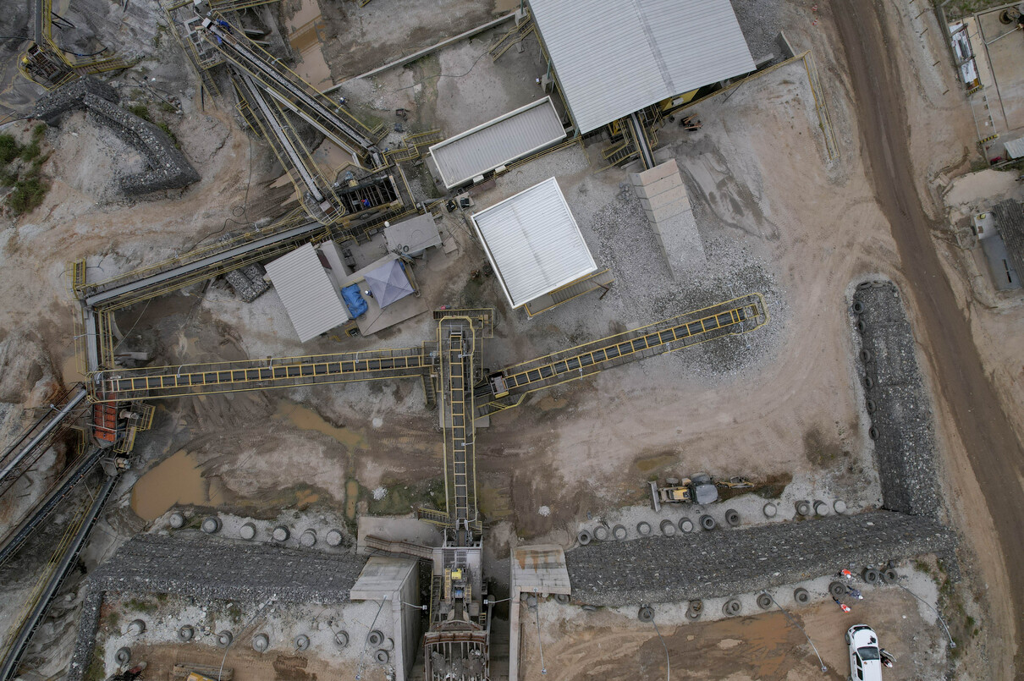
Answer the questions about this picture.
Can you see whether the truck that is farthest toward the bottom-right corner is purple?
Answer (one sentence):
No, the color of the truck that is farthest toward the bottom-right corner is white.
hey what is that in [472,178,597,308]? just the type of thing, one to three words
building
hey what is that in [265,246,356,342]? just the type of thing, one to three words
shed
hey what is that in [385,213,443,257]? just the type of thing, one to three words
shed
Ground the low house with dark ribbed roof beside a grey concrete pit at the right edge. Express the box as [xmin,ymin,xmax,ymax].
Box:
[970,198,1024,293]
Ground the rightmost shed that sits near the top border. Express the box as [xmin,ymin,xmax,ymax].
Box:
[504,0,756,175]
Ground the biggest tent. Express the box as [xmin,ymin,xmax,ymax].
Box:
[363,260,419,310]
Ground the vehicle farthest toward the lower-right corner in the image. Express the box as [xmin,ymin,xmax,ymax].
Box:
[844,624,894,681]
